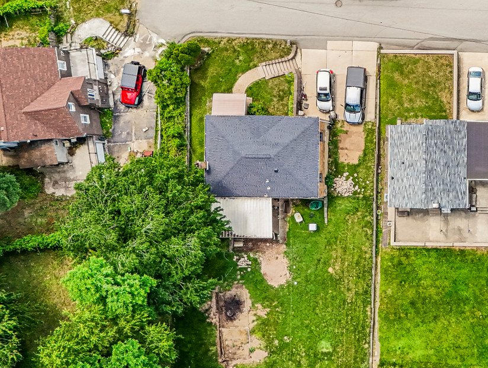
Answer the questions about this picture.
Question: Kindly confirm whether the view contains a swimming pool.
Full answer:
No, this view has no swimming pool in it.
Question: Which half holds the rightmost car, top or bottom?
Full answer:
Seen from above, the rightmost car lies in the top half of the view.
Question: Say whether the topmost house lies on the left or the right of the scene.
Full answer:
The topmost house appears in the left half of the scene.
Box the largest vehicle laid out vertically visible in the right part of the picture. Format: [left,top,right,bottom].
[342,65,367,125]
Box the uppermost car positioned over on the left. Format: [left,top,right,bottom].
[117,60,146,109]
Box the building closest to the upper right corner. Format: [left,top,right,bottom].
[381,120,488,213]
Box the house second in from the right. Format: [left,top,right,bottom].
[186,93,327,243]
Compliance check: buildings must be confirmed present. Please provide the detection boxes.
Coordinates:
[186,93,327,243]
[381,120,488,213]
[0,43,108,166]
